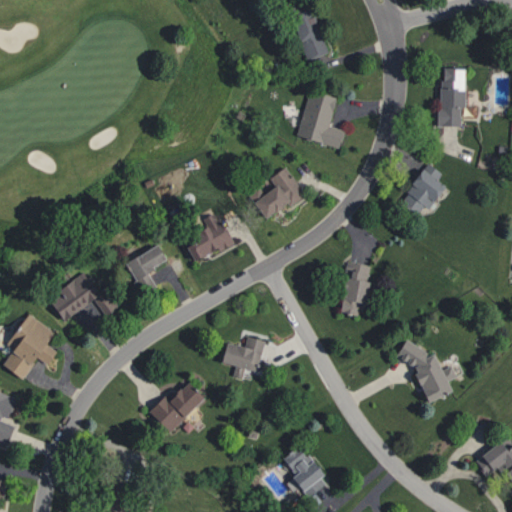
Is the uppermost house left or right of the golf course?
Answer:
to its right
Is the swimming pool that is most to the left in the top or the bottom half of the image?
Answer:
bottom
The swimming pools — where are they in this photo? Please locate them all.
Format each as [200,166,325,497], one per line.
[496,78,510,106]
[264,471,288,498]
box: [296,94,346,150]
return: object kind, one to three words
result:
house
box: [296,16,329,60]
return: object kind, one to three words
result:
house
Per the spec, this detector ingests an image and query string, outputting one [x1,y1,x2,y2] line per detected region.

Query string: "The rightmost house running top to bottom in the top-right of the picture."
[438,68,467,128]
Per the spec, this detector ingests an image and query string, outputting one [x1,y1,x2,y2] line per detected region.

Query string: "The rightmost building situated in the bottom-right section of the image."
[476,436,512,480]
